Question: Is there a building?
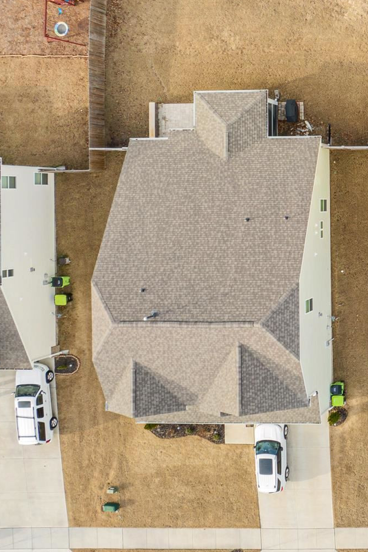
Yes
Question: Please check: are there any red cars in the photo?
No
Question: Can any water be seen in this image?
No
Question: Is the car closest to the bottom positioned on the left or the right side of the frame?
right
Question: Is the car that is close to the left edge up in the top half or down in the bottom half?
bottom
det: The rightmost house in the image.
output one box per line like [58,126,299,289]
[90,89,341,424]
